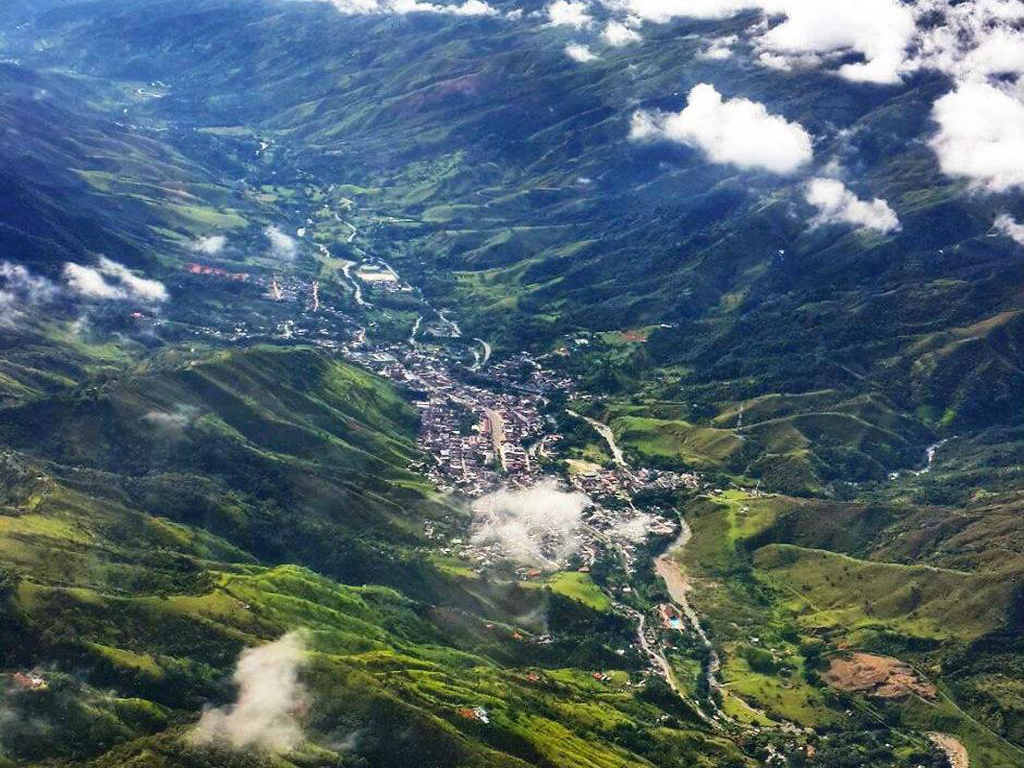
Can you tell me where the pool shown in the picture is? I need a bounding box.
[664,618,686,630]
